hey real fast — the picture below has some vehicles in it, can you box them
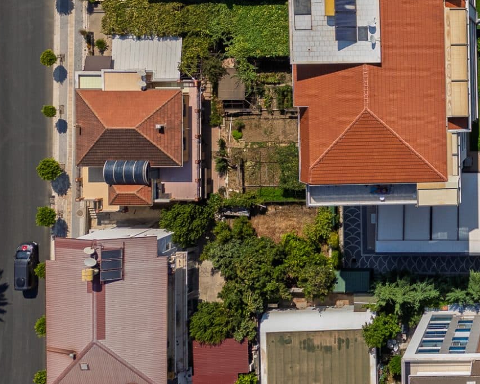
[12,245,40,290]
